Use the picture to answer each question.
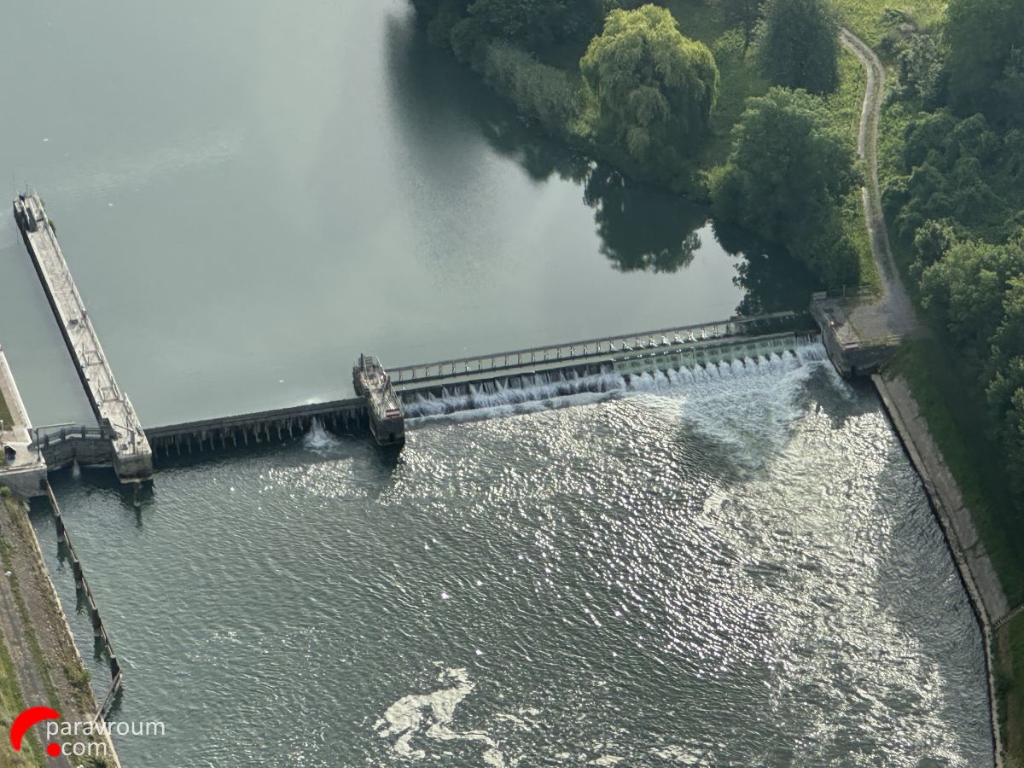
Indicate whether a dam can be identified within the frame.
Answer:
Yes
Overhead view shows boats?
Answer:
No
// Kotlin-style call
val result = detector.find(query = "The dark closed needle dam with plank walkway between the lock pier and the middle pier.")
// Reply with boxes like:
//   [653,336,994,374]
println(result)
[146,400,369,465]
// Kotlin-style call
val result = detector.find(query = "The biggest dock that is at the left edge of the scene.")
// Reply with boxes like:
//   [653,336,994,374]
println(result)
[11,175,156,484]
